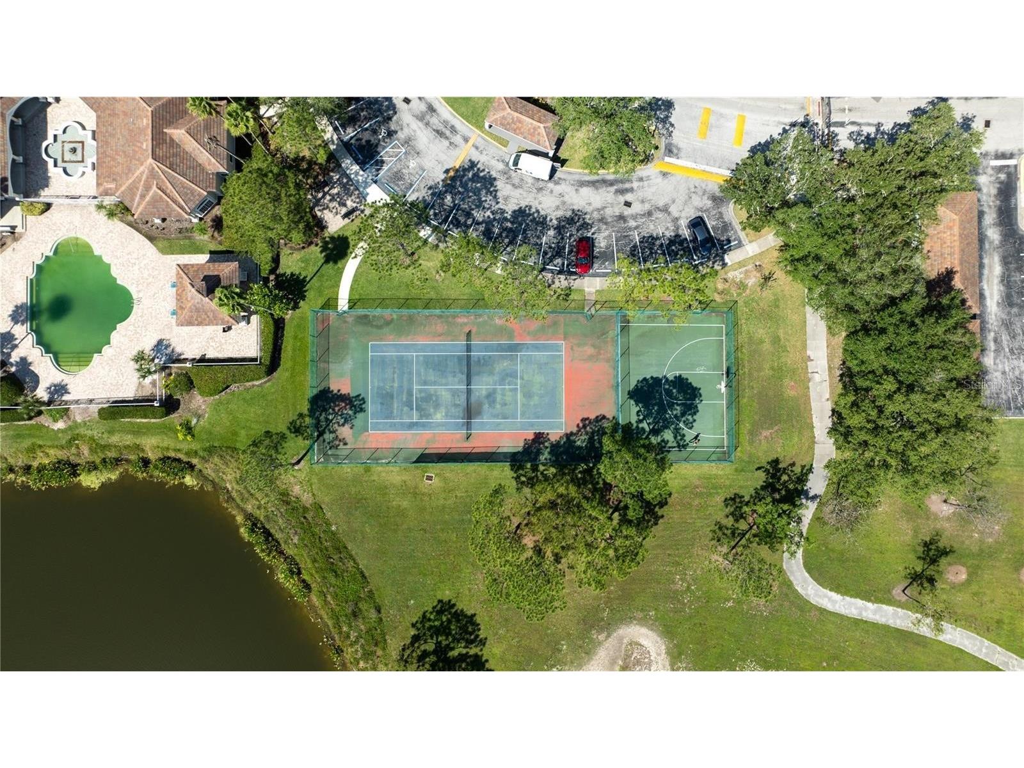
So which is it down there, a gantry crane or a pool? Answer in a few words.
pool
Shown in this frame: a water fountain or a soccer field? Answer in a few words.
water fountain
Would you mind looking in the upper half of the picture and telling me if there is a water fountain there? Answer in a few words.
Yes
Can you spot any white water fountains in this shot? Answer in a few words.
Yes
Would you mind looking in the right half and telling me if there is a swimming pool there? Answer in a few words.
No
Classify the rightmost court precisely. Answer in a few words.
basketball court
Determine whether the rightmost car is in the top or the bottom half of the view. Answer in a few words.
top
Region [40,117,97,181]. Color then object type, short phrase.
white fountain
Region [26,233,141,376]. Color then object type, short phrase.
green swimming pool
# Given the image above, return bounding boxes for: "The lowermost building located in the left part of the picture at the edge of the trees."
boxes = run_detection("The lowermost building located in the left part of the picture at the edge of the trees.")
[175,263,247,327]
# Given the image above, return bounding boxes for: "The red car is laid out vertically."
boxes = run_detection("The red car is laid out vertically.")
[575,237,593,275]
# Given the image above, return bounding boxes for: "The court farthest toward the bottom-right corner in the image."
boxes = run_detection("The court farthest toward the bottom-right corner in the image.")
[618,314,728,462]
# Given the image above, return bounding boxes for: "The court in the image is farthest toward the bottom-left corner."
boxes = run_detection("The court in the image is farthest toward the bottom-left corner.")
[317,314,618,462]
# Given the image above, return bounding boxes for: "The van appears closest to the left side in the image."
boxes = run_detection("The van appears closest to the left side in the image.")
[508,153,562,182]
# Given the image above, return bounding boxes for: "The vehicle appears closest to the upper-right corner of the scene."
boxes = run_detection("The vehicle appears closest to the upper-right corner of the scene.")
[689,214,715,257]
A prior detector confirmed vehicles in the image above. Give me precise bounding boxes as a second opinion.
[575,237,593,275]
[689,214,715,257]
[508,153,562,182]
